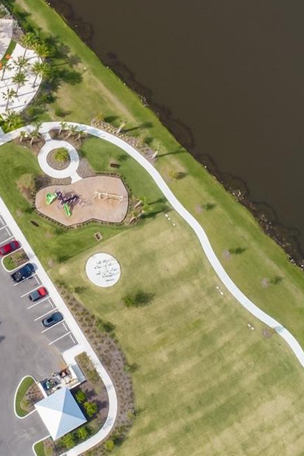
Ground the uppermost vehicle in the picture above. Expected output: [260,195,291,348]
[0,240,20,255]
